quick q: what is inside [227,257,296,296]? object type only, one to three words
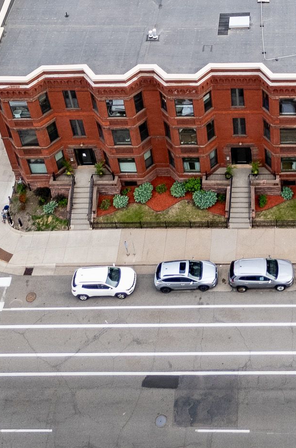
car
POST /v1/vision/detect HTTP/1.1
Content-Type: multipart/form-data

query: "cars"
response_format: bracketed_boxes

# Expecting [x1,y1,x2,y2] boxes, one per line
[152,257,222,296]
[227,257,296,296]
[70,262,142,300]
